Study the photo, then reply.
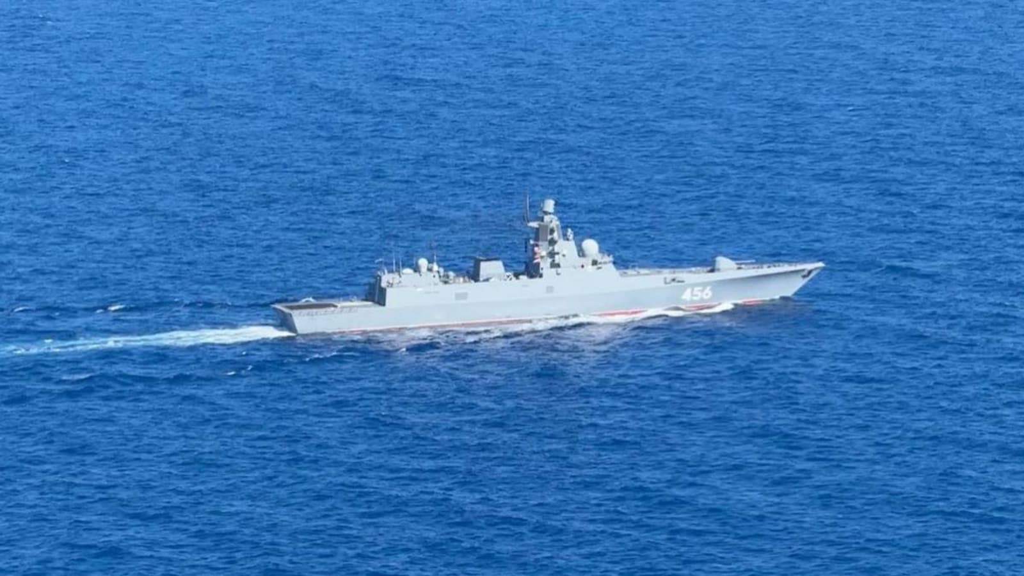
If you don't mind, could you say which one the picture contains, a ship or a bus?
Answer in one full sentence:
Visible in the photo is a ship.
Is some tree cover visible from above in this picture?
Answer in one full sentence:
No, the scene doesn't show any tree cover.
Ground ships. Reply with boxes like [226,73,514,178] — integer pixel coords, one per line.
[273,199,825,334]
